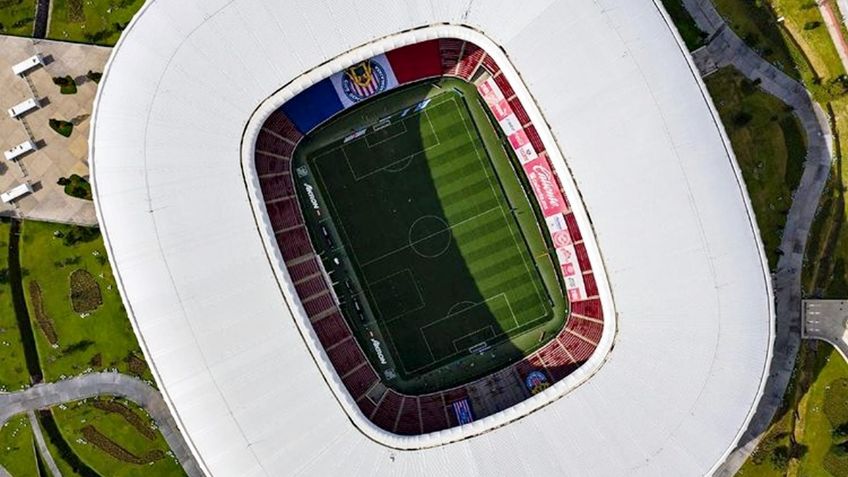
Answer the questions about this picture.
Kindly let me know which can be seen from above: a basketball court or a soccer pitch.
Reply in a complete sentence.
Of the two, only a soccer pitch appears.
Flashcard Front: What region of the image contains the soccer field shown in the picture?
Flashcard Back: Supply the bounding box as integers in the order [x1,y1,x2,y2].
[292,76,569,396]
